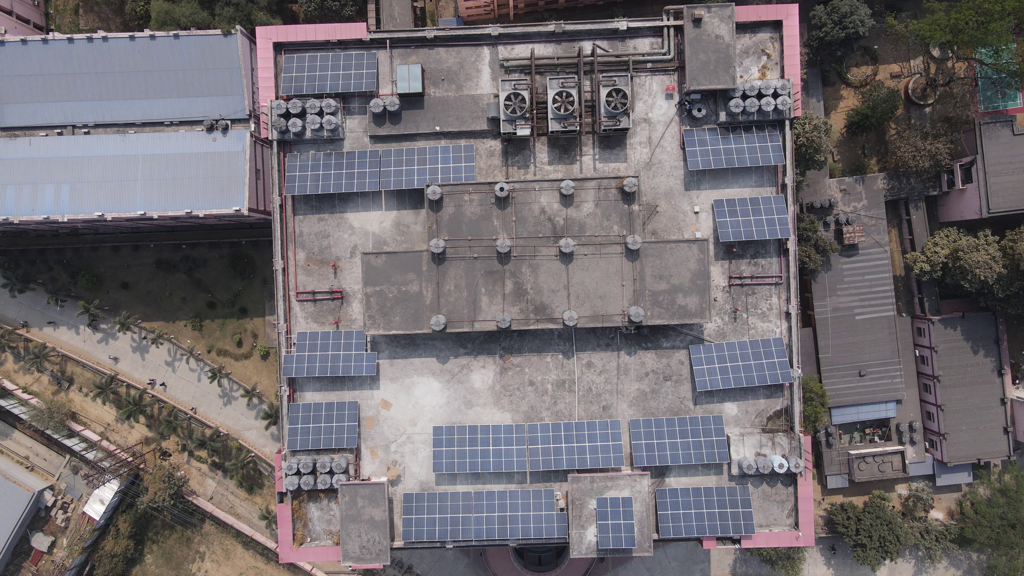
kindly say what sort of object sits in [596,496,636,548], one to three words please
solar array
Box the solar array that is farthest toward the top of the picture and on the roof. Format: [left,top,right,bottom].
[281,52,378,96]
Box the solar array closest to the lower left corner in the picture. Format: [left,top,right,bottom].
[287,401,359,450]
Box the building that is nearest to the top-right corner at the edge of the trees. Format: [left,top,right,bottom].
[943,114,1024,220]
